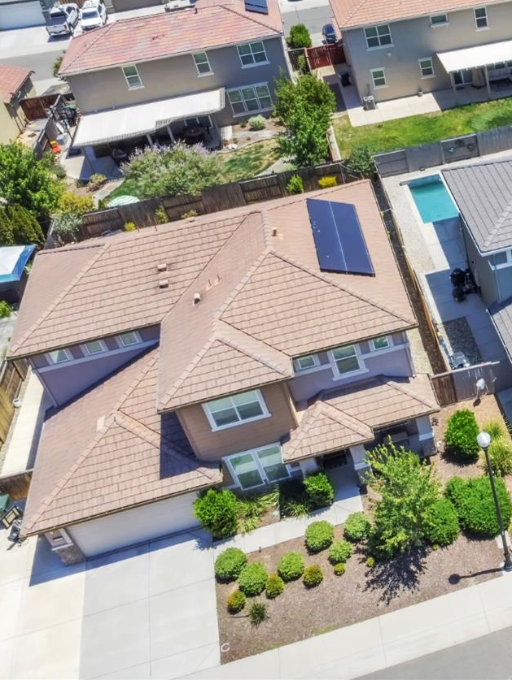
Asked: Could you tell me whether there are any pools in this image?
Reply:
Yes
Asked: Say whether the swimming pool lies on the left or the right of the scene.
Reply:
right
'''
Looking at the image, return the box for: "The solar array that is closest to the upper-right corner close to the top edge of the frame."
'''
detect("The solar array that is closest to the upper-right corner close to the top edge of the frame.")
[245,0,269,17]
